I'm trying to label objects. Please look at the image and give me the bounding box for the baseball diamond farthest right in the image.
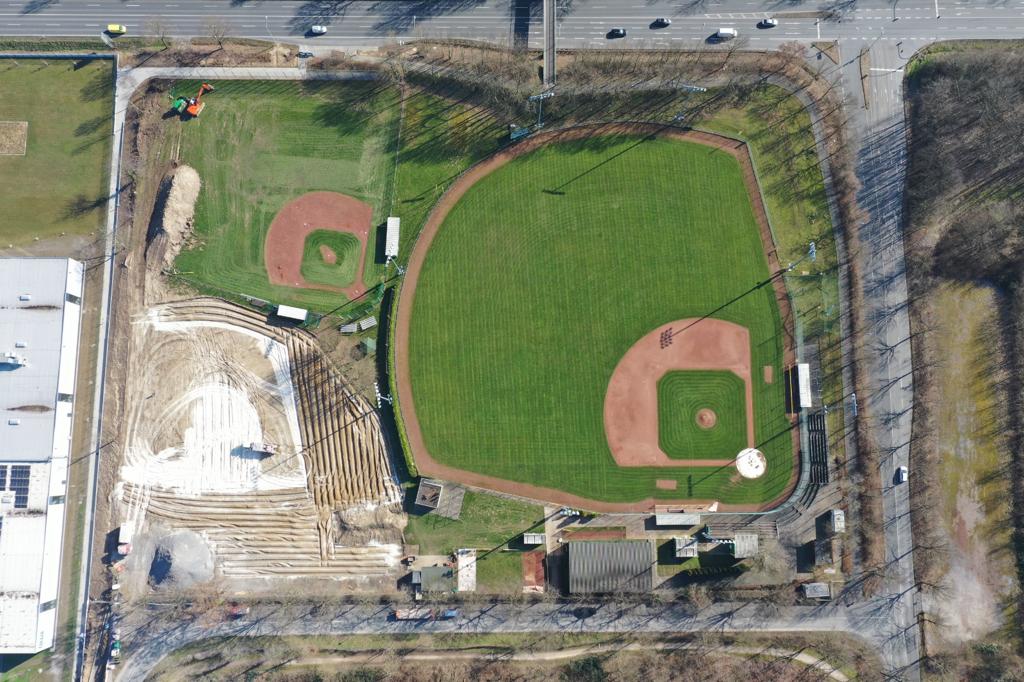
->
[395,124,800,513]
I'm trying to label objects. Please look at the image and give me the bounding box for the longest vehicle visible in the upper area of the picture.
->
[187,89,213,120]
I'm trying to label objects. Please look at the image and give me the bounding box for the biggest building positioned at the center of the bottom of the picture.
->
[570,541,654,595]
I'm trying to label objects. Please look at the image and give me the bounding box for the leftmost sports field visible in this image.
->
[0,58,113,246]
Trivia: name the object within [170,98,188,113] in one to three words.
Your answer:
vehicle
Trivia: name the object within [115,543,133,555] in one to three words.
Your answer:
vehicle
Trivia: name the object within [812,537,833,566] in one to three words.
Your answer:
shed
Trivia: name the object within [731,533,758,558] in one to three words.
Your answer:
building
